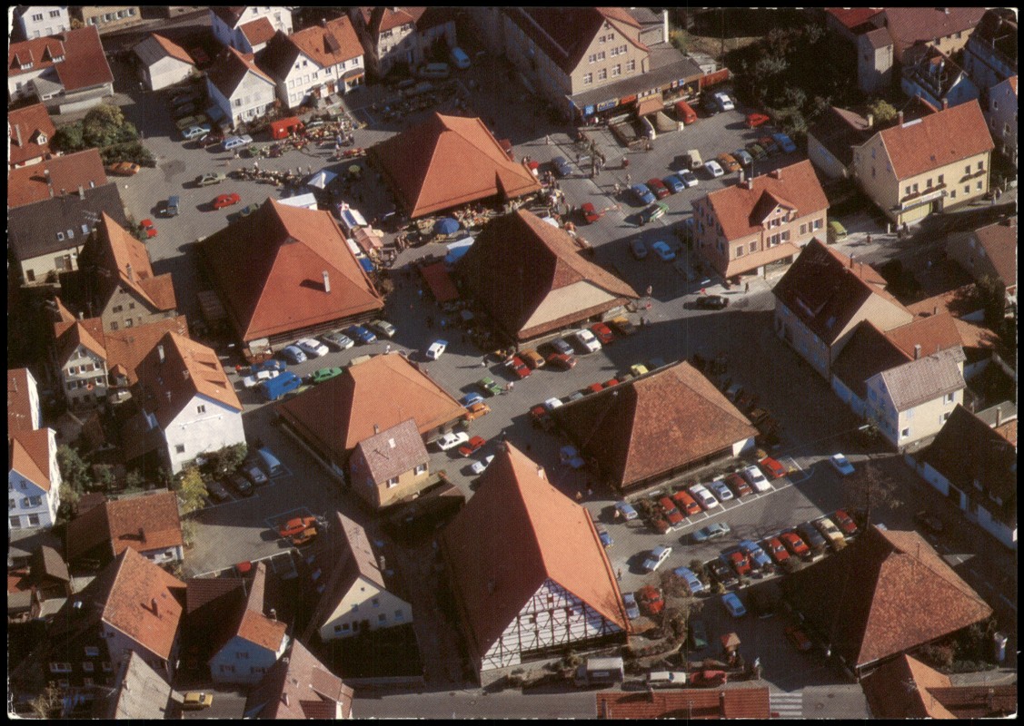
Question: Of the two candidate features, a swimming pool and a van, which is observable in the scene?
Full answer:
Of the two, only a van appears.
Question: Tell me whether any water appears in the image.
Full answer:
No, there is no water in the image.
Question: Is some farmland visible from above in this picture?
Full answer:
No, the picture contains no farmland.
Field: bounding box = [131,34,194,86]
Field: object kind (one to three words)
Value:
barn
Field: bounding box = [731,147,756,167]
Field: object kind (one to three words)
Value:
car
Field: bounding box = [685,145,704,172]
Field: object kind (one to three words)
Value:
vehicle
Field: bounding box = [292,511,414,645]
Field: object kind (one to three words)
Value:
house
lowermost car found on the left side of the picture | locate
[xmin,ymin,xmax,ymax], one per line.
[176,692,219,711]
